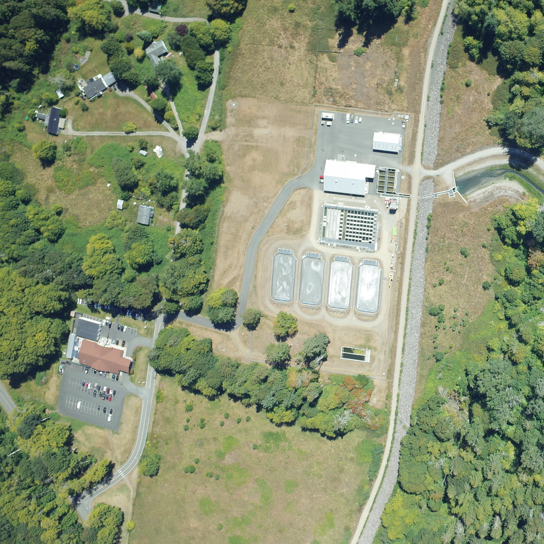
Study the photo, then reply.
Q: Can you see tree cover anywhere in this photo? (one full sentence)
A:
Yes, there's tree cover in this view.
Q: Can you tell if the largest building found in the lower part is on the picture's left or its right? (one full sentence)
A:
It is on the left.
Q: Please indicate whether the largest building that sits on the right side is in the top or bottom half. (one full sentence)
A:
It is in the top half that the largest building that sits on the right side appears.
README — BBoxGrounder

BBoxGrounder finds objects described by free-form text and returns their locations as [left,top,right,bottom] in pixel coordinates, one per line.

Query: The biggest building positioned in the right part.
[324,159,375,195]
